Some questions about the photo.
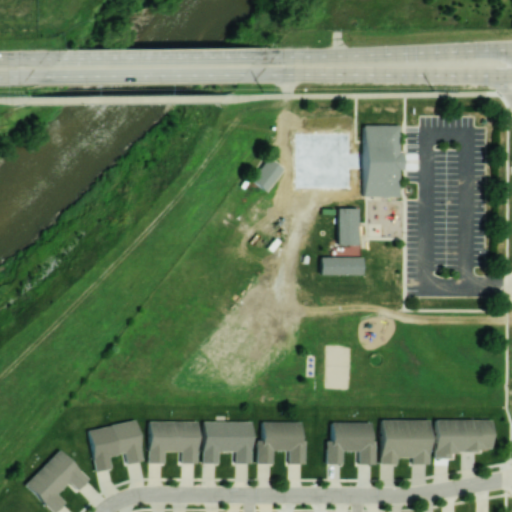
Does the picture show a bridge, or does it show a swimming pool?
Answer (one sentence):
I can see a bridge in this picture.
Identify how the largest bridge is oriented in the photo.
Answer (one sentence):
The largest bridge is laid out from side to side.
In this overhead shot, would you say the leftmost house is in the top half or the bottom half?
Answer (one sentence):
It is in the bottom half that the leftmost house appears.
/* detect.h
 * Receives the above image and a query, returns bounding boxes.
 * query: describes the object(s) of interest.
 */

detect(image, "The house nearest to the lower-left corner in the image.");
[25,450,90,512]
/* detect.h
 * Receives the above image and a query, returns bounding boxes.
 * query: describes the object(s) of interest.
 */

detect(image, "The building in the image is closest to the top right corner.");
[363,126,420,196]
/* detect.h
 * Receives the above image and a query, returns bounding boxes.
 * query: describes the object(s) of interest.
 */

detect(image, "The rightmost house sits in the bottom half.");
[433,420,496,459]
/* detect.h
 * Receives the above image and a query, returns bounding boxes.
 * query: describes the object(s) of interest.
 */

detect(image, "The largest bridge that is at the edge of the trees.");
[38,48,246,86]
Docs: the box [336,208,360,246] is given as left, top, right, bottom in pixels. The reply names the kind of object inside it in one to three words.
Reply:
shed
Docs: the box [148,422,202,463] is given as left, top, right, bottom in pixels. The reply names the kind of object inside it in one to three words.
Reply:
house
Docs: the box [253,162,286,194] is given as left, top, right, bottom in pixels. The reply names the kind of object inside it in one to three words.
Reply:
house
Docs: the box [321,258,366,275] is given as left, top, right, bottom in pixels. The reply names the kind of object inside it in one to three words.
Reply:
shed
